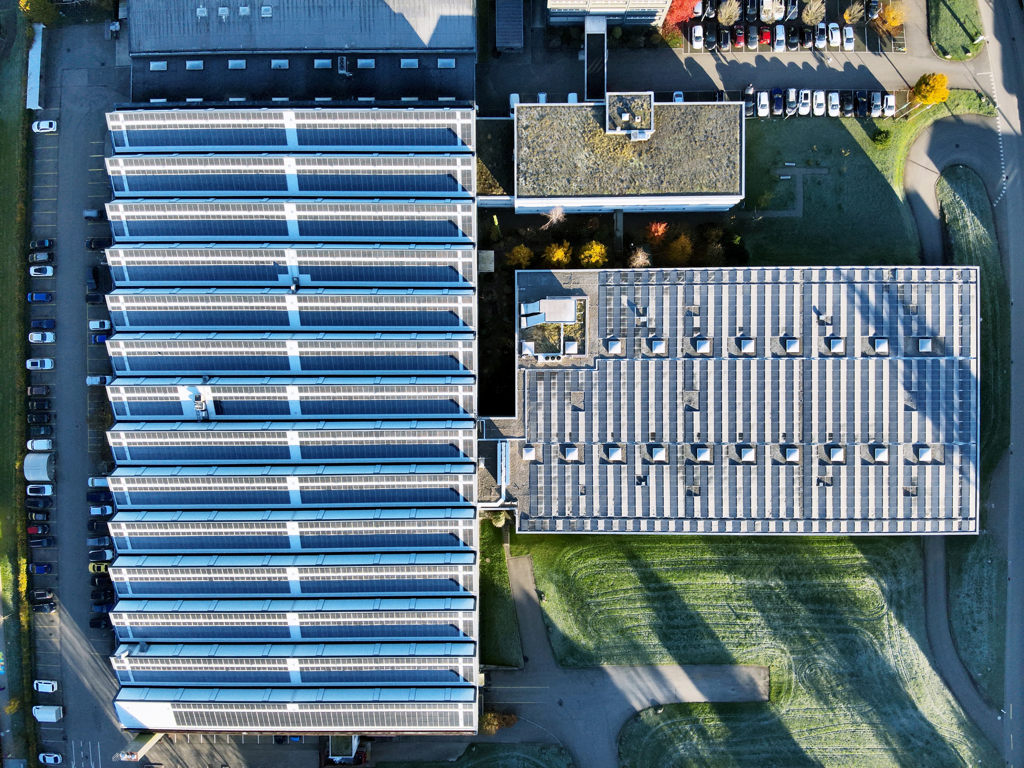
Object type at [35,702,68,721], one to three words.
vehicle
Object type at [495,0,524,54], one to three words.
shed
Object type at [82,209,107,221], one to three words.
vehicle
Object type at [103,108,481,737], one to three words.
building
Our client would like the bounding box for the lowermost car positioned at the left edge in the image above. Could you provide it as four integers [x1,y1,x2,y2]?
[40,751,65,764]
